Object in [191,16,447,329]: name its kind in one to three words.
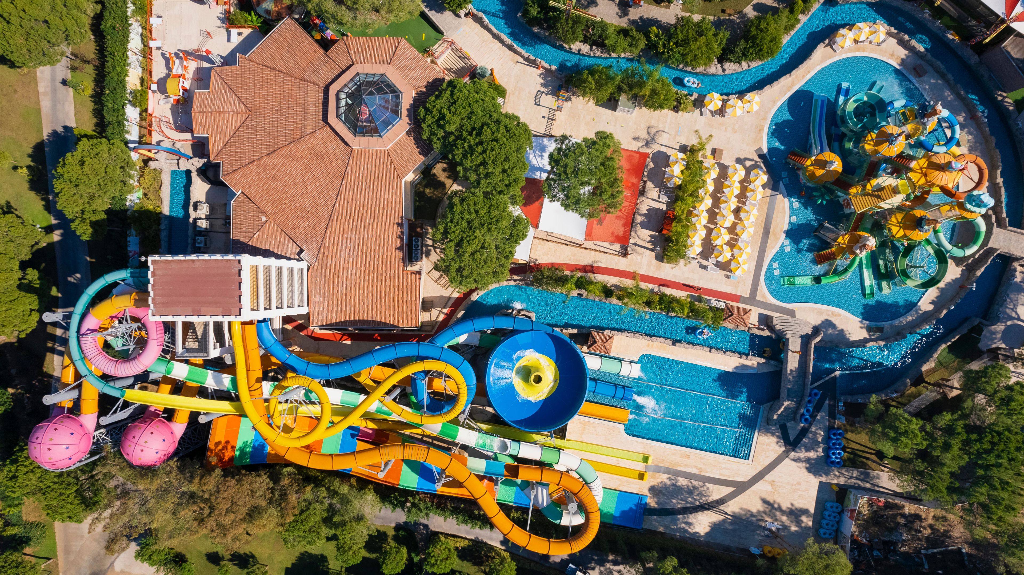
building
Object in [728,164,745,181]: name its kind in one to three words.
umbrella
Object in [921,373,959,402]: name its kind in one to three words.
building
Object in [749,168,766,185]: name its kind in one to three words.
umbrella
